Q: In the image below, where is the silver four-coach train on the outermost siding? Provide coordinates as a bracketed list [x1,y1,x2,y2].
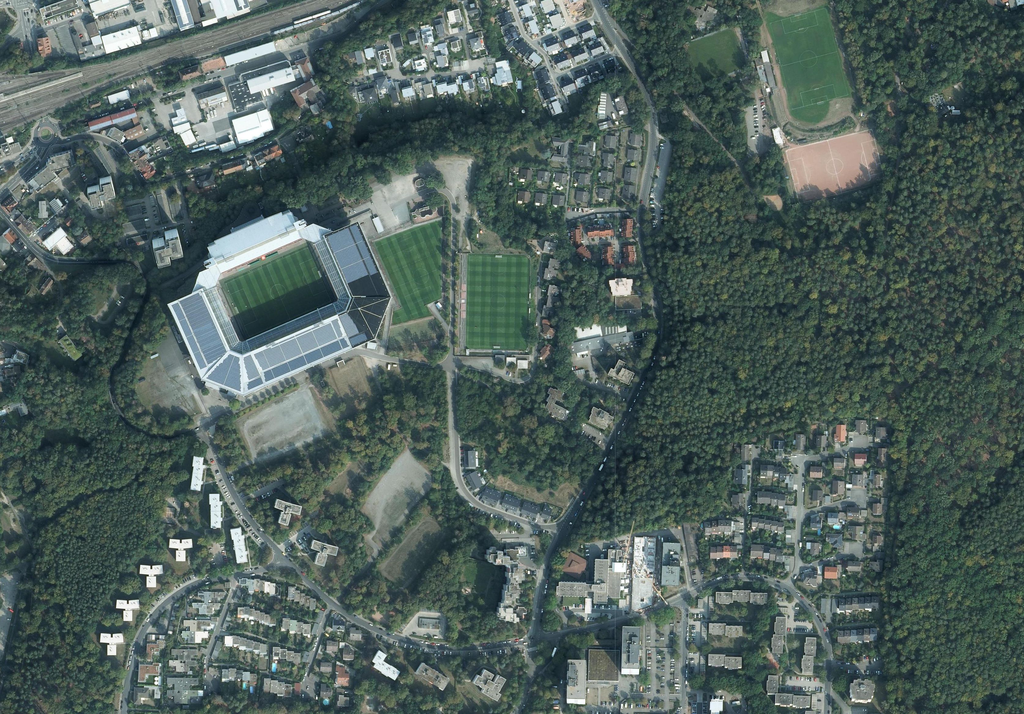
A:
[273,1,362,34]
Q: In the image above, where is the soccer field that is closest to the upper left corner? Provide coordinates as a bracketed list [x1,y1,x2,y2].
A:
[222,246,334,339]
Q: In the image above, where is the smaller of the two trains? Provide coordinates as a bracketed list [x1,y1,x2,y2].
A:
[295,11,331,24]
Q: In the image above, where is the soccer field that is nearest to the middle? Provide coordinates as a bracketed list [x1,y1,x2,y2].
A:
[465,254,530,350]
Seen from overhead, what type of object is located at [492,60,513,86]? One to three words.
house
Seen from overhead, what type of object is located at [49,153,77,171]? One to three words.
building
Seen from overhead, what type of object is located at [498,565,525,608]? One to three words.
building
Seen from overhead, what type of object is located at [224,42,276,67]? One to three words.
shed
